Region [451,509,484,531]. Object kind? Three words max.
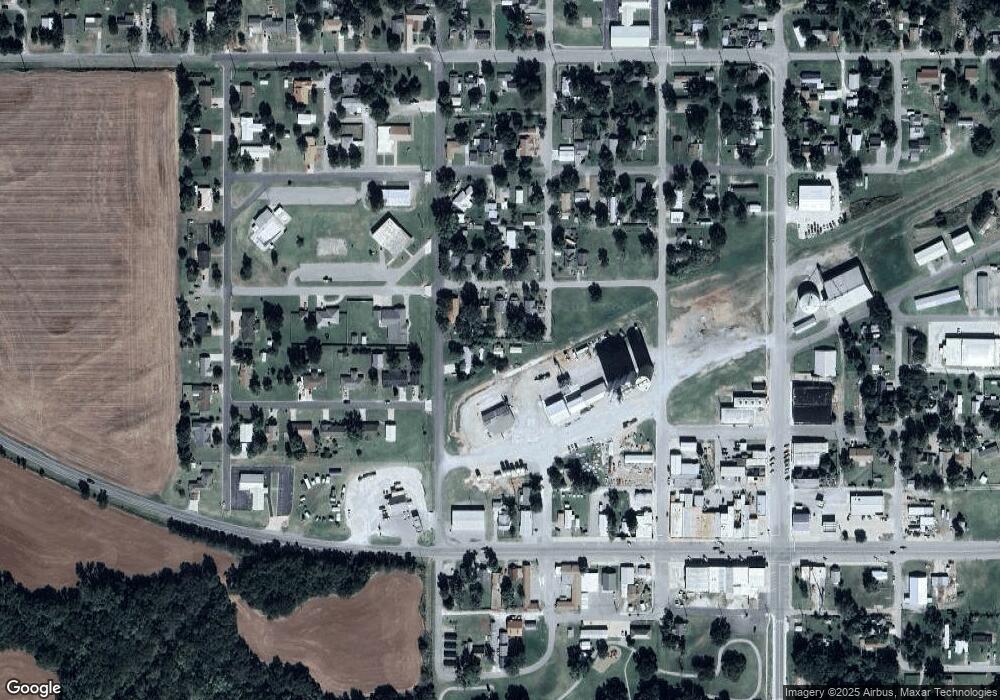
building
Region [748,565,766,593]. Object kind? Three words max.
building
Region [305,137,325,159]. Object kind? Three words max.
house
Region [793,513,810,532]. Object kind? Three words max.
house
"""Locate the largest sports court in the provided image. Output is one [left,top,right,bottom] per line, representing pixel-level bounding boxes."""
[317,238,347,256]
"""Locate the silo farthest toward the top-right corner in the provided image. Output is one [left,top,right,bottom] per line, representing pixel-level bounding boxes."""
[799,291,819,313]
